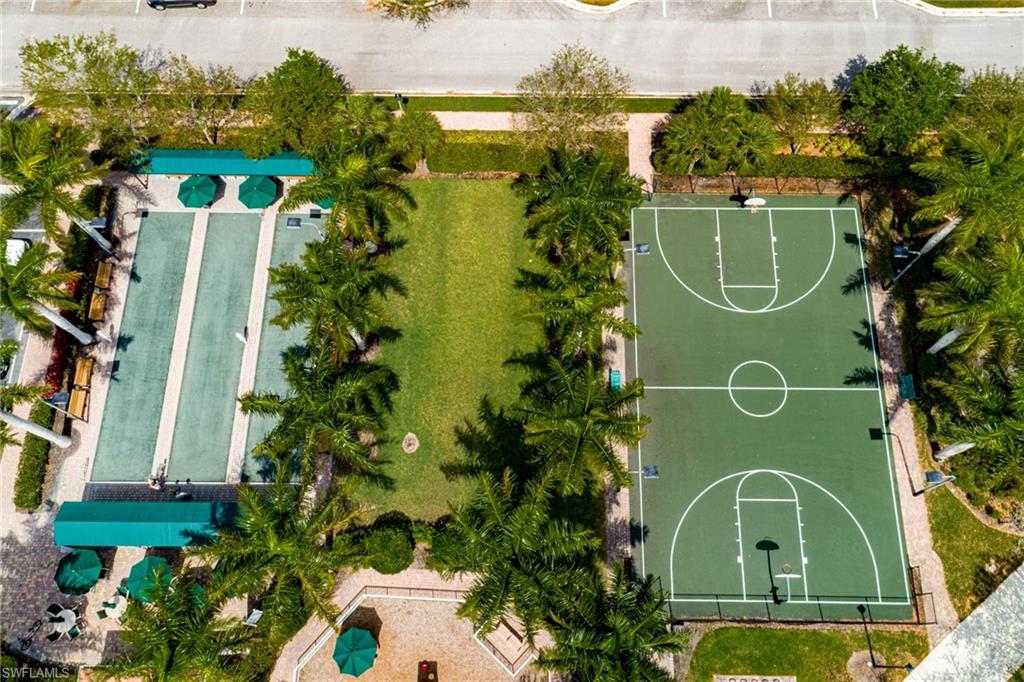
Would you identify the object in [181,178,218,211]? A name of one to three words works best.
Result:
umbrella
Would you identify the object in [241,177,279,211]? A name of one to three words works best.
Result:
umbrella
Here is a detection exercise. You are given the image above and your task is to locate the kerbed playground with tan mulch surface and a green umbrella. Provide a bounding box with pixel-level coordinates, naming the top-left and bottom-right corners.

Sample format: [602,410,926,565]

[297,595,550,682]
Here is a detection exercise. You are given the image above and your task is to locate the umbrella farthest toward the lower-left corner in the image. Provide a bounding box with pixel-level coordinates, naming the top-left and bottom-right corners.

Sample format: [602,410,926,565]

[58,548,107,598]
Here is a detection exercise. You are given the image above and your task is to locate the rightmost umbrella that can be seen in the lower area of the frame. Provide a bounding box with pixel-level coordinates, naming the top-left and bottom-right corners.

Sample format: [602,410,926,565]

[331,625,381,677]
